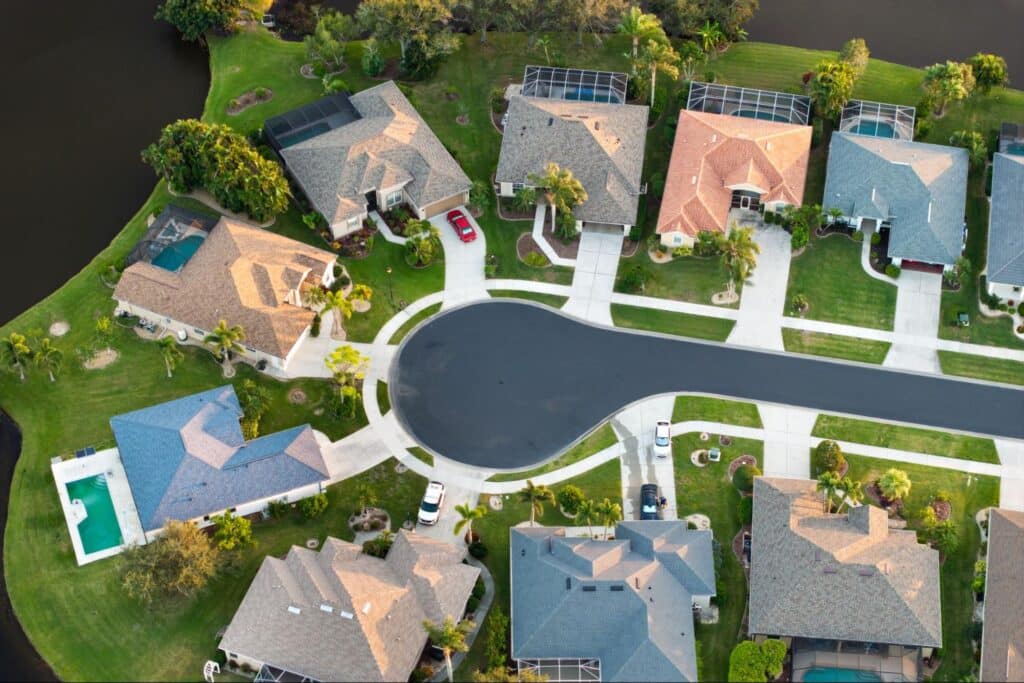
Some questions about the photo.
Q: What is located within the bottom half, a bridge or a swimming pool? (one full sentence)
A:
What appears within the bottom half is a swimming pool.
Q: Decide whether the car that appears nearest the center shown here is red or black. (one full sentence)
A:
In this view, the car that appears nearest the center is red.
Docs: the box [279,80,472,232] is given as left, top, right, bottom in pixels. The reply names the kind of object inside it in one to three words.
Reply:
house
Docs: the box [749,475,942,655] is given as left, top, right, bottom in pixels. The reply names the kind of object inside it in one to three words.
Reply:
house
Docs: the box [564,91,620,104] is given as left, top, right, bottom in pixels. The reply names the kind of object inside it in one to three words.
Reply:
swimming pool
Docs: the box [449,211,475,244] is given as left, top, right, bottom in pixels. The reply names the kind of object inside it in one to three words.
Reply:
car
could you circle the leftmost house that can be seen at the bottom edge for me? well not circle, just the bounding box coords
[218,528,481,683]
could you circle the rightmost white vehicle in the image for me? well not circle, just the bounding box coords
[653,424,672,461]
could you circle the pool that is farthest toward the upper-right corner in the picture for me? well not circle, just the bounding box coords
[846,117,899,139]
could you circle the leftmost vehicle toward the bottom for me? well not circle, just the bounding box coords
[420,482,444,526]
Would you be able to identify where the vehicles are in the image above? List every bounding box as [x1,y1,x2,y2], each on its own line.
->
[653,424,672,461]
[640,487,661,521]
[449,211,475,244]
[420,482,444,526]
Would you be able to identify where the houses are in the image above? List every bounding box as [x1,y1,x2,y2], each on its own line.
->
[987,153,1024,299]
[655,109,813,247]
[495,95,650,235]
[279,80,472,232]
[109,384,330,539]
[977,507,1024,683]
[749,475,942,655]
[112,216,337,366]
[218,528,481,683]
[822,131,969,274]
[510,520,717,683]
